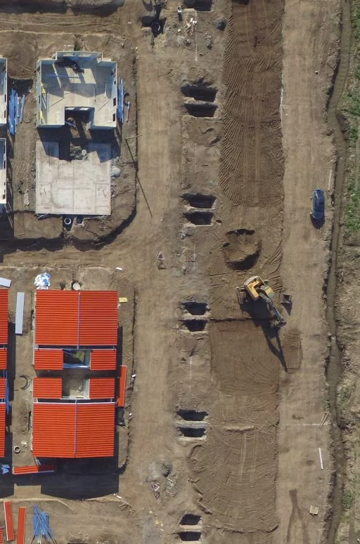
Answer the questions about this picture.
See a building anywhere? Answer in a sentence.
Yes, a building can be made out from above.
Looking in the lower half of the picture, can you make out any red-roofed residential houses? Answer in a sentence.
Yes, you'll find a red-roofed residential house in the lower half of the picture.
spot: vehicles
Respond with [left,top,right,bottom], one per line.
[306,190,325,220]
[235,277,286,330]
